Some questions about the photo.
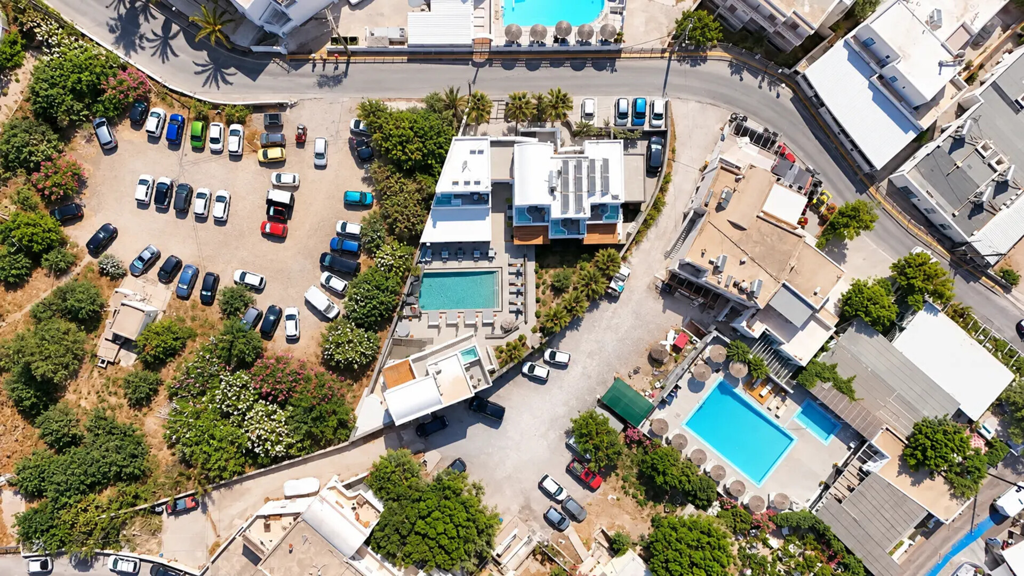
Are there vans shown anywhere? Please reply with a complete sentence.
Yes, the picture does show a van.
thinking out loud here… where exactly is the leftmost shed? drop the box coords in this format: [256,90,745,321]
[97,290,160,361]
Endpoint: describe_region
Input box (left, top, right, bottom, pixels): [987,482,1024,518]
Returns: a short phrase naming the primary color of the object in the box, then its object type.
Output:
white van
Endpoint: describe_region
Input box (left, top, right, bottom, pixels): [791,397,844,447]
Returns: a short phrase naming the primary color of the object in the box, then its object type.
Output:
blue swimming pool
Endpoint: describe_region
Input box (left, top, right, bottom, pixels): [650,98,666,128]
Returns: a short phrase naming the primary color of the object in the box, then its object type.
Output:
white car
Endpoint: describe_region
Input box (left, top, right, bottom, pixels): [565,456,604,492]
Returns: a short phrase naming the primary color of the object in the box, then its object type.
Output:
red truck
